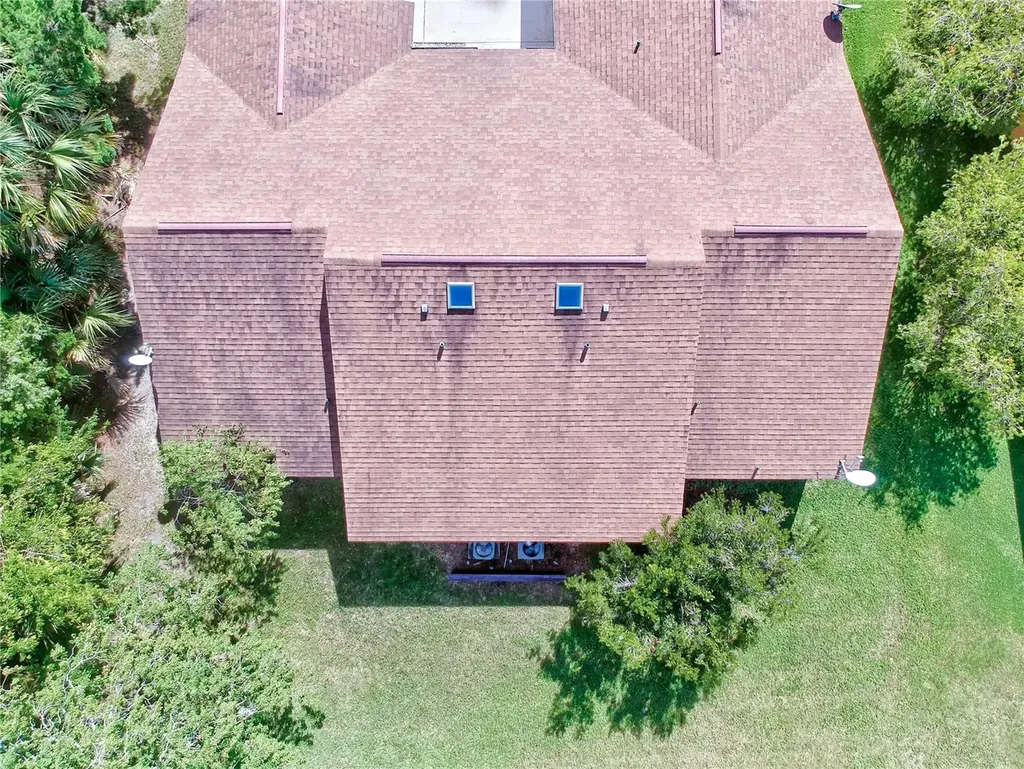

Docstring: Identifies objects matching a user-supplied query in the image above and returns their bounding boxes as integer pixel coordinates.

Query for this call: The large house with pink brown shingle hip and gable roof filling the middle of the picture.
[123,0,905,543]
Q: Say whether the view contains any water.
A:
No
